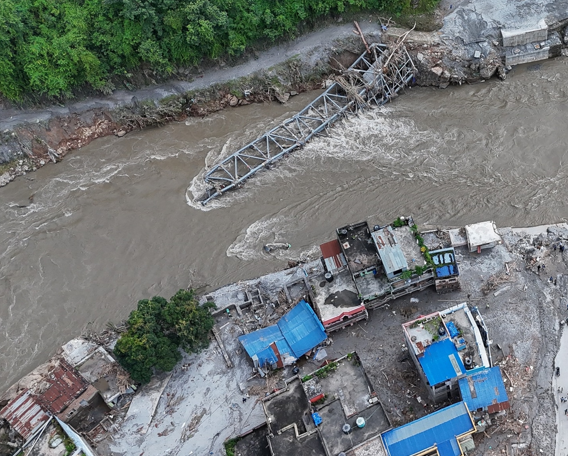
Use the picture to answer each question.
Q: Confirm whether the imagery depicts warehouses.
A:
No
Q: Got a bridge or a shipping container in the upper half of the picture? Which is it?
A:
bridge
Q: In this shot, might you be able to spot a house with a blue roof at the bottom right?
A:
Yes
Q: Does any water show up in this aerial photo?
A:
Yes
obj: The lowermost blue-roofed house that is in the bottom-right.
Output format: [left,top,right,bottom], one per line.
[381,401,478,456]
